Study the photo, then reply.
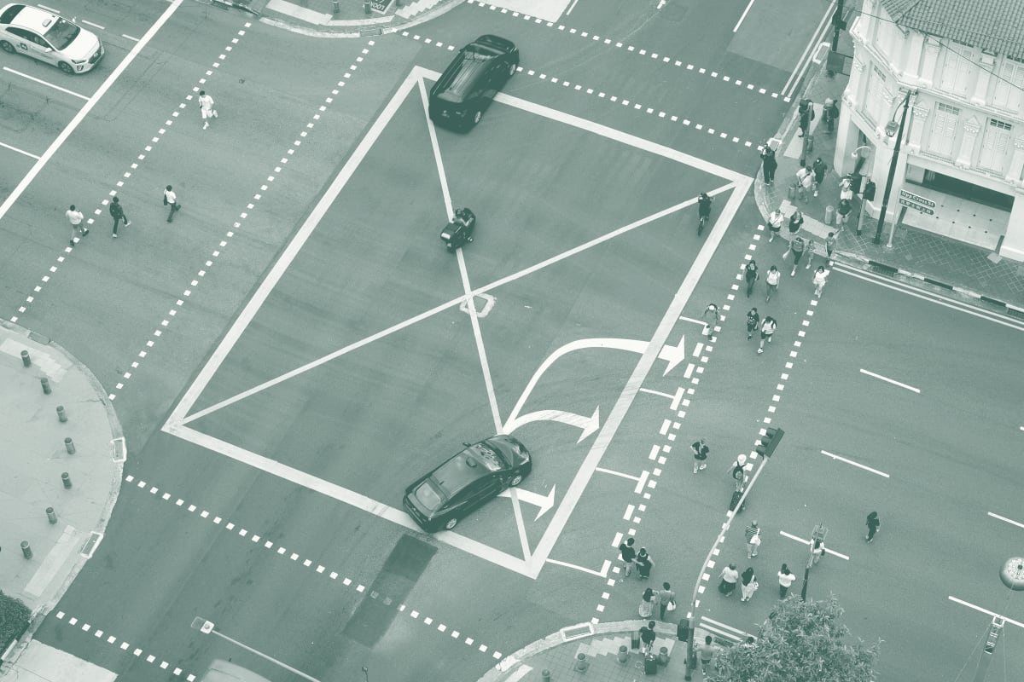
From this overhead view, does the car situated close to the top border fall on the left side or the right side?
left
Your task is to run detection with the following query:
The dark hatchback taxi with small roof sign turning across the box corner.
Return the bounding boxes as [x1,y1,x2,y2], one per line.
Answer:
[404,432,528,529]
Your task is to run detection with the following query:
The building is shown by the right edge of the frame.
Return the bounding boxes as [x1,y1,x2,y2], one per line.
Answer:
[835,0,1024,258]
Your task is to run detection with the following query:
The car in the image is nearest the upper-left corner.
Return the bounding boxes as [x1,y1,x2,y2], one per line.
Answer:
[0,3,104,73]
